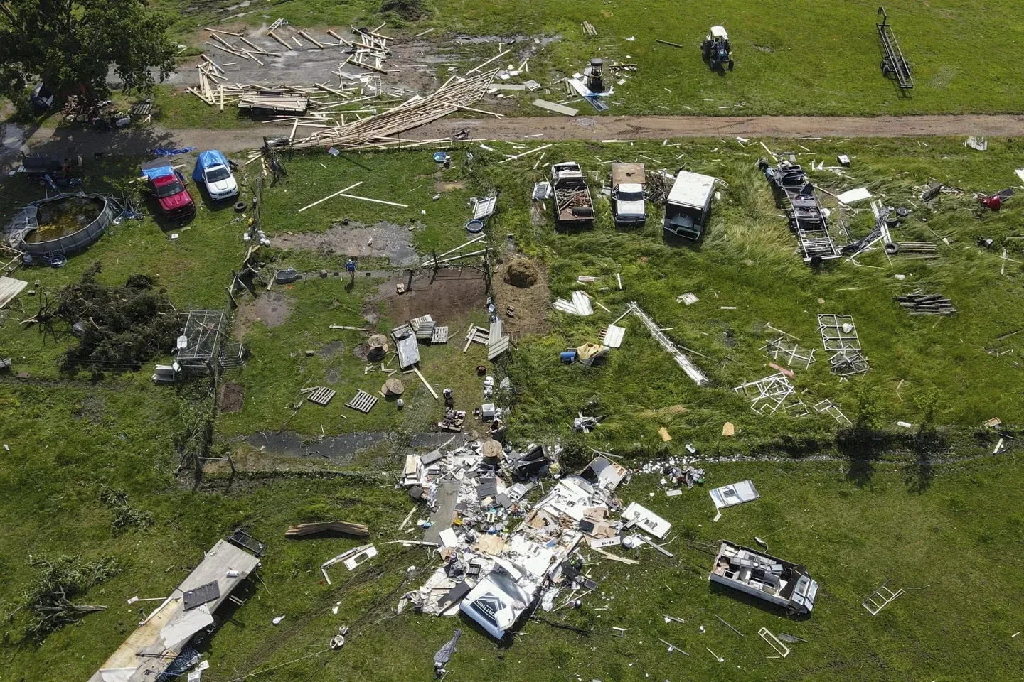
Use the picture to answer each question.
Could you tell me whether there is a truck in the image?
Yes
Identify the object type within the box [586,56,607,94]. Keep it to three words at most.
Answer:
work vehicle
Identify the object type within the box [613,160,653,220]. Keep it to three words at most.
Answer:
truck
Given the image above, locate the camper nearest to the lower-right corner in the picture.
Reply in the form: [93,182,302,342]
[706,541,818,614]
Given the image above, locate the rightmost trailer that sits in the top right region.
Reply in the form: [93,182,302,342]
[880,1,923,80]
